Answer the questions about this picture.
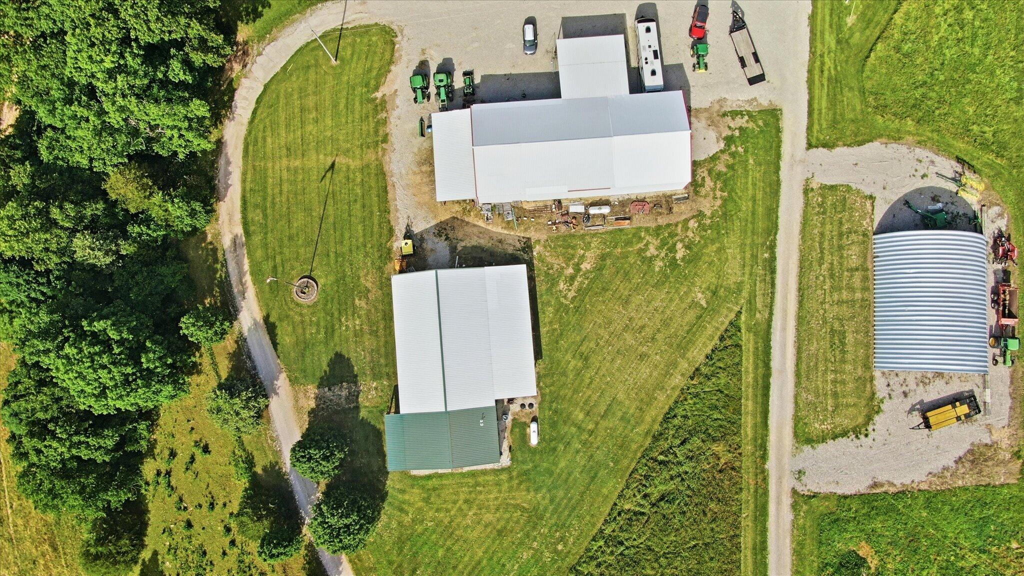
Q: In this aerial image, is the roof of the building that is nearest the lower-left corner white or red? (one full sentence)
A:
The roof of the building that is nearest the lower-left corner is white.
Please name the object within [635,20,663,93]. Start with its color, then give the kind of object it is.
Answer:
white camper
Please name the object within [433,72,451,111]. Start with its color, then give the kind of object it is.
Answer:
green work vehicle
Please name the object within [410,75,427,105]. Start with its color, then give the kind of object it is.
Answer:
green work vehicle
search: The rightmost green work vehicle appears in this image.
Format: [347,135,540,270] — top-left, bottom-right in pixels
[991,338,1020,365]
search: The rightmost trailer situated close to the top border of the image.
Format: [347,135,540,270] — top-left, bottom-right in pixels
[730,8,765,85]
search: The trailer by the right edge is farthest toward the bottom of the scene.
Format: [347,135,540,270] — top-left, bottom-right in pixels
[908,396,981,431]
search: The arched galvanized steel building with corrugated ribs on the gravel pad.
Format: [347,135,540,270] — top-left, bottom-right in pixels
[871,230,990,373]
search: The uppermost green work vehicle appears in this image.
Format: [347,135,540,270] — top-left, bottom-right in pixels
[691,45,708,74]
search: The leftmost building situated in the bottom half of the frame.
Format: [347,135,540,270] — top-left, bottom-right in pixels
[384,263,536,472]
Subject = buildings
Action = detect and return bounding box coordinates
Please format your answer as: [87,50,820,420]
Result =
[384,263,536,472]
[871,230,990,373]
[431,34,694,206]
